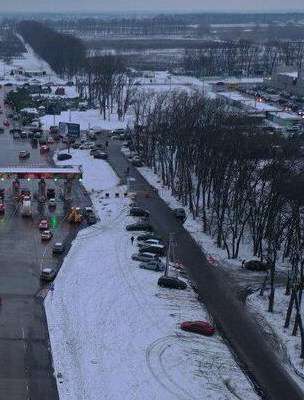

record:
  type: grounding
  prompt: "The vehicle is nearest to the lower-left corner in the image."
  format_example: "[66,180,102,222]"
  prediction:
[41,265,56,278]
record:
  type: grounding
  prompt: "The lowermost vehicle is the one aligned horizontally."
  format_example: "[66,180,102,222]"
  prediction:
[180,321,216,335]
